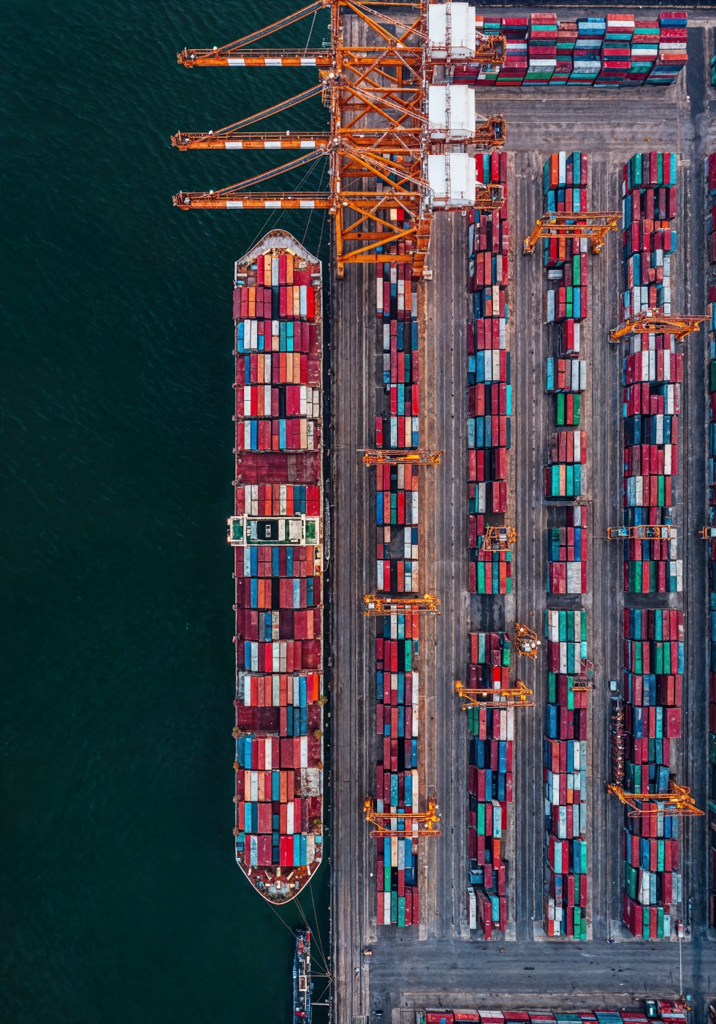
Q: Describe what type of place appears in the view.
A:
port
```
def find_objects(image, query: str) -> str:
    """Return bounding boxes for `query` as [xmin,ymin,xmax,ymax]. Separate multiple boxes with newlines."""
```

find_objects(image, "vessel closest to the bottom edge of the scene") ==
[292,923,313,1024]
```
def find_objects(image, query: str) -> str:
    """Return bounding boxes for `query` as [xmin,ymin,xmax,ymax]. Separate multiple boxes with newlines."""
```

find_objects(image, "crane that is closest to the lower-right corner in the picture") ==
[611,768,707,818]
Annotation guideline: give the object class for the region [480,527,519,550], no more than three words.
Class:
crane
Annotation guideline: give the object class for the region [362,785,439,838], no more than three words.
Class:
crane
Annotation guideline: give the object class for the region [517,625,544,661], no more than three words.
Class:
work vehicle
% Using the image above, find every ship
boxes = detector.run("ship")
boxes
[292,923,313,1024]
[226,229,327,904]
